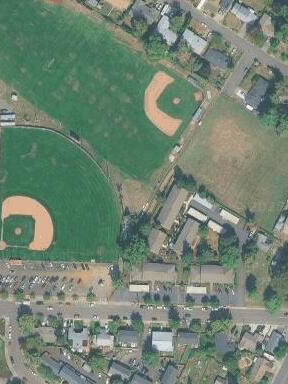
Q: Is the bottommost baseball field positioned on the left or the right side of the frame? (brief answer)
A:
left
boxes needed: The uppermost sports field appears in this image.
[0,0,207,187]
